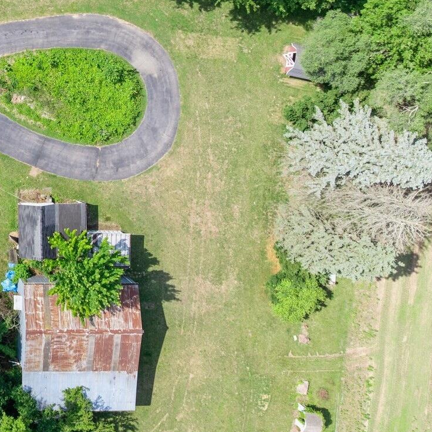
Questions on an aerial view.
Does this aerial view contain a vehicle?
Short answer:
No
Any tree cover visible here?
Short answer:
Yes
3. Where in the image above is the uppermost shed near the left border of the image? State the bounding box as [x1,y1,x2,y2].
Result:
[16,199,87,260]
